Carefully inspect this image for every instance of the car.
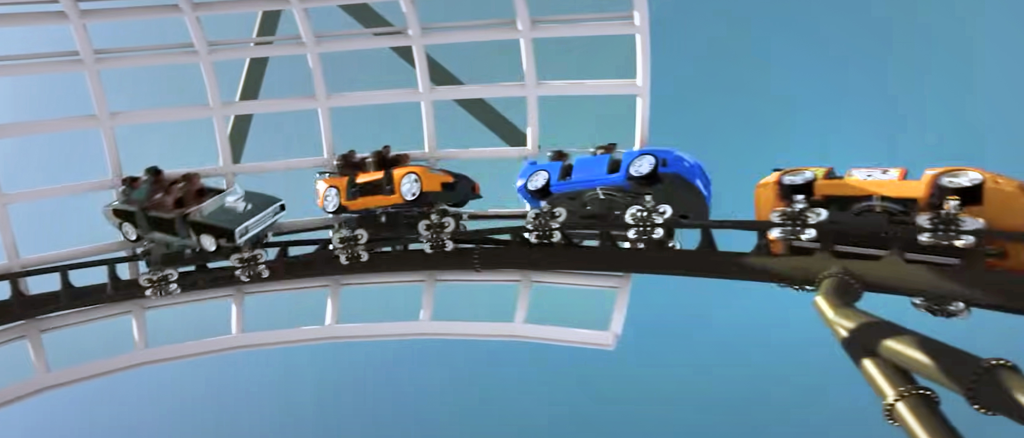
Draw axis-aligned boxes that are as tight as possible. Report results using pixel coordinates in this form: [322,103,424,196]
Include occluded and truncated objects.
[319,159,486,260]
[105,178,290,294]
[520,148,715,250]
[750,167,1024,337]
